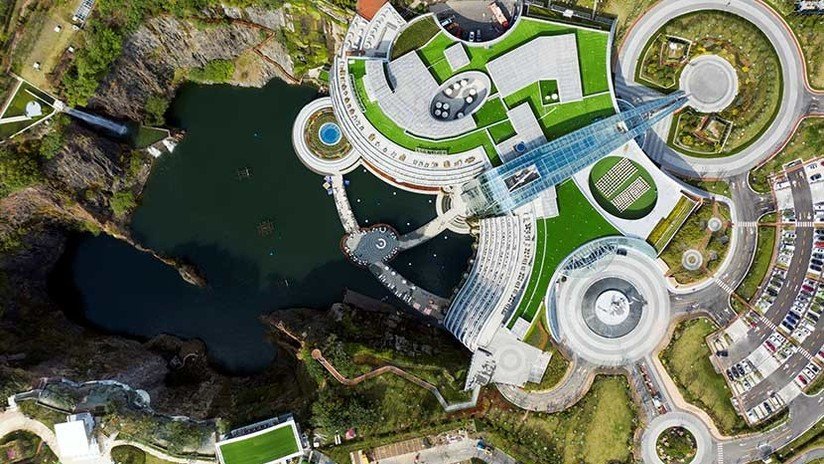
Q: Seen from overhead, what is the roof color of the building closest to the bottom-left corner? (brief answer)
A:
white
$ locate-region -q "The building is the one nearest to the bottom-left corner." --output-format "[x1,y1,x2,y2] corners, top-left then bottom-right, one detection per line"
[55,411,105,464]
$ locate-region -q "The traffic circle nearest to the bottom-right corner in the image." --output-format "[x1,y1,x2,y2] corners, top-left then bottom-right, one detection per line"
[637,410,712,464]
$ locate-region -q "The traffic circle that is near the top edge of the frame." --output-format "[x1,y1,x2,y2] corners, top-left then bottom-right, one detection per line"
[613,0,807,177]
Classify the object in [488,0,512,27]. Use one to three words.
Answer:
bus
